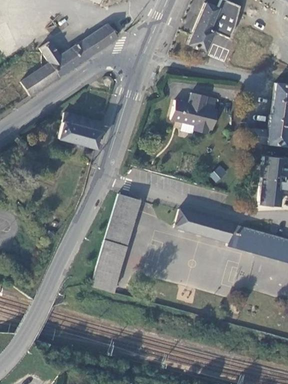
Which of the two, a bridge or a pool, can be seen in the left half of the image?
bridge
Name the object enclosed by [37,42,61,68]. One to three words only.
barn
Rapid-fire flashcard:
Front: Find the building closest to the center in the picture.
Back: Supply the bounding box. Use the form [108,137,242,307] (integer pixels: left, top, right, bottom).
[104,193,140,244]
